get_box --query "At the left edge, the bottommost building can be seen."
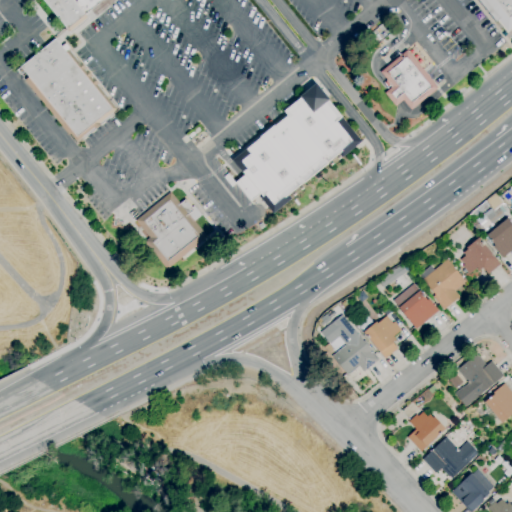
[22,35,116,142]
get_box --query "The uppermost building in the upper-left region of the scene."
[45,0,114,32]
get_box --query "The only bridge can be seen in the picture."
[0,363,94,478]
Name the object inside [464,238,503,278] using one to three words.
house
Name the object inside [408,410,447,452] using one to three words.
house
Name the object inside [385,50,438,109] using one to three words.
building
